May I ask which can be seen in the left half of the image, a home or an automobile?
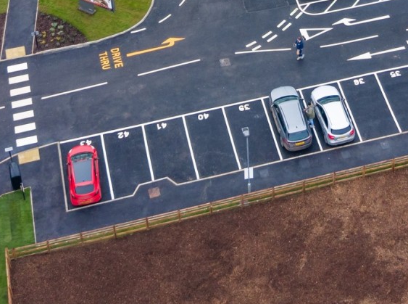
automobile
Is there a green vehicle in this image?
No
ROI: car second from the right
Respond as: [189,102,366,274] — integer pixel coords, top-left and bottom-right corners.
[266,89,319,154]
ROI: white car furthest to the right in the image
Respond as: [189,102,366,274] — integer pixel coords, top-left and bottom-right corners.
[307,89,361,147]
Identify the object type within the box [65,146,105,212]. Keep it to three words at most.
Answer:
car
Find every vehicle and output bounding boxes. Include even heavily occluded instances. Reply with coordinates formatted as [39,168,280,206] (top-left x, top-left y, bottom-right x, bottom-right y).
[266,89,319,154]
[65,146,105,212]
[307,89,361,147]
